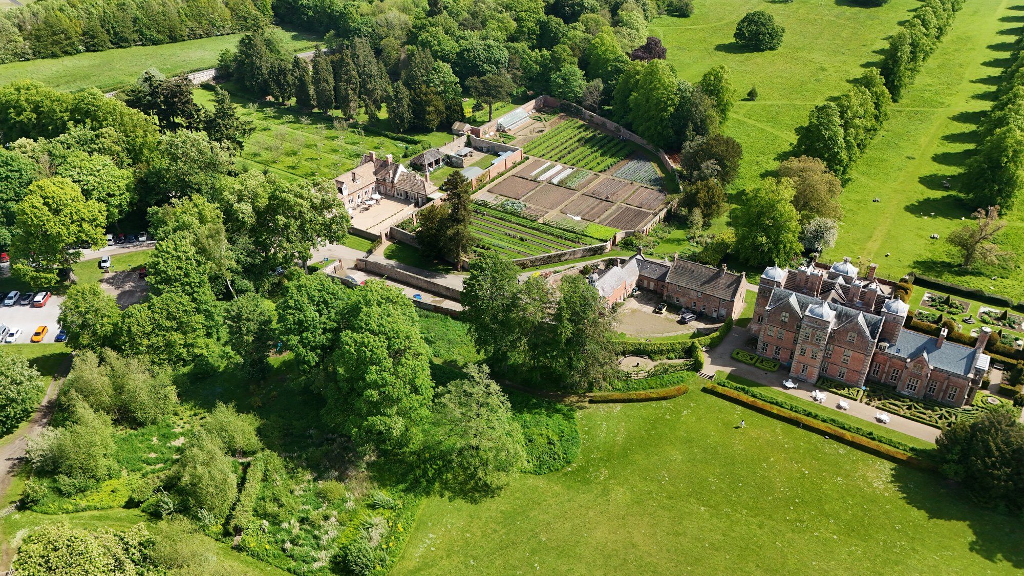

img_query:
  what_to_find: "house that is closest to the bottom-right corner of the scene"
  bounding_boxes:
[750,259,996,407]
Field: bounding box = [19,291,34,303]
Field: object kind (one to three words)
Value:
vehicle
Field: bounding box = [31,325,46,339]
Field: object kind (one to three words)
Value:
car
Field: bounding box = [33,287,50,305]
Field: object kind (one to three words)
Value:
vehicle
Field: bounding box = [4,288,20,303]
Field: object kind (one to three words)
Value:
car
